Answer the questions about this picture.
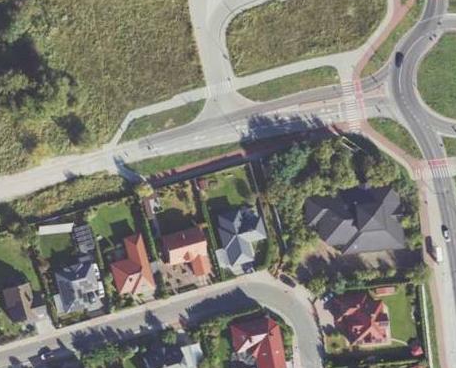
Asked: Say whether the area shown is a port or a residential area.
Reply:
residential area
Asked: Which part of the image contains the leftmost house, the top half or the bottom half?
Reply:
bottom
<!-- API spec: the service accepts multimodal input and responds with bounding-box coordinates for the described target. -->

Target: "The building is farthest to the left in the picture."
[2,282,50,323]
